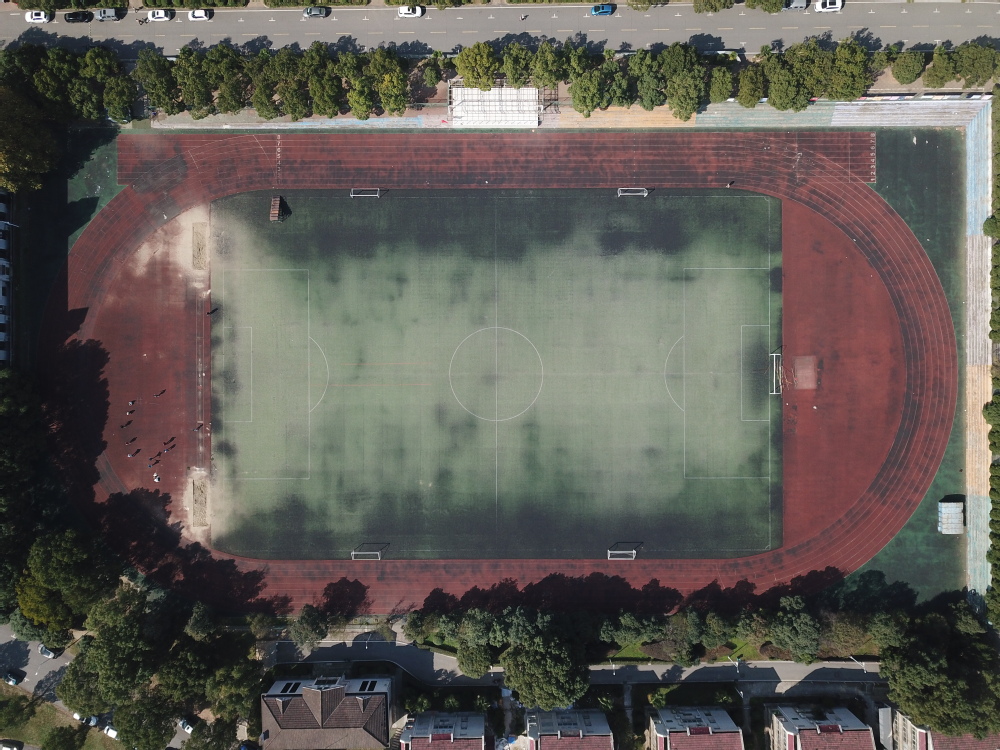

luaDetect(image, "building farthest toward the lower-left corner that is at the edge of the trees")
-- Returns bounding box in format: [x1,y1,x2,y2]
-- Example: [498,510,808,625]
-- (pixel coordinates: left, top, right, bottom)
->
[262,659,394,750]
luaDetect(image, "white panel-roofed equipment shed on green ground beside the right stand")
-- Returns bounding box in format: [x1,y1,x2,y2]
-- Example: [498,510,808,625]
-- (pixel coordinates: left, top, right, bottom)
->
[933,501,962,533]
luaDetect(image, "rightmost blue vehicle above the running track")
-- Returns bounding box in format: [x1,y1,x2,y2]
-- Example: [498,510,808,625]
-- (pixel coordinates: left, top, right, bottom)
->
[592,1,613,15]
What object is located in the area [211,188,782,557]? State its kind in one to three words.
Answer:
soccer field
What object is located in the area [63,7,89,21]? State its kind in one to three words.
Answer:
car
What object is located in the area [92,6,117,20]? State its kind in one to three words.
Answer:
vehicle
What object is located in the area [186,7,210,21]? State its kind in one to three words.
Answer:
vehicle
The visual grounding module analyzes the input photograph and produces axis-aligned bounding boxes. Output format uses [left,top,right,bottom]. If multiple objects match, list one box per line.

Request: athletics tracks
[42,133,958,612]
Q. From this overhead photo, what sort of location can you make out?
sports ground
